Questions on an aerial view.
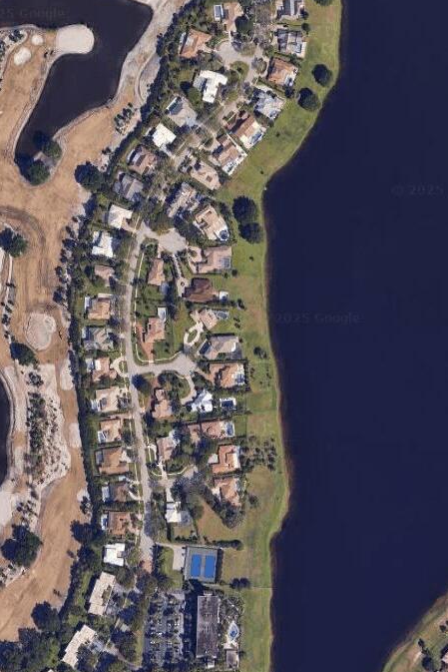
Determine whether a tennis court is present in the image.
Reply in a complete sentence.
Yes, you can see a tennis court in this photo.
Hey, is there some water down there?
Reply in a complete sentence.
Yes, there's water in this view.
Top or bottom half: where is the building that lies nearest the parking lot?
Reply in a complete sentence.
The bottom half of the photo is where the building that lies nearest the parking lot is.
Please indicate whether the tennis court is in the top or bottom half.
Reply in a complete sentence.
The tennis court sits in the bottom half of the picture.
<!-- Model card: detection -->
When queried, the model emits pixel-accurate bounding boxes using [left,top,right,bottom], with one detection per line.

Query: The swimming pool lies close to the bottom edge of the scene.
[224,618,240,646]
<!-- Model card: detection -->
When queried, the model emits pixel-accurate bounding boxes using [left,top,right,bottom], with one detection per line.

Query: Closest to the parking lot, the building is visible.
[196,591,219,667]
